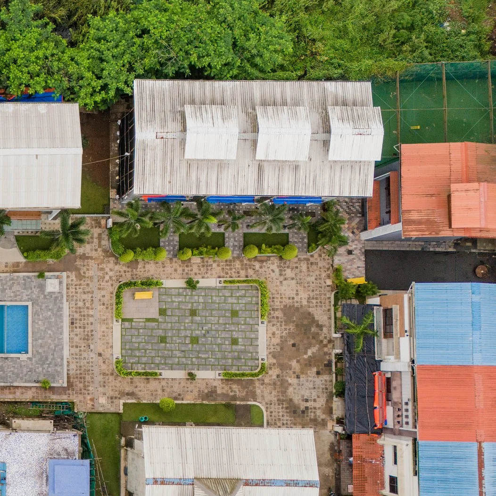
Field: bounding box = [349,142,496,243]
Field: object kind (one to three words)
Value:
house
